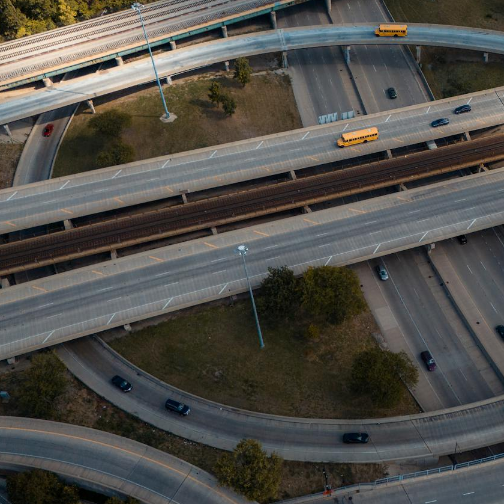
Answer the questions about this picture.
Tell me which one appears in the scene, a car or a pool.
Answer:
car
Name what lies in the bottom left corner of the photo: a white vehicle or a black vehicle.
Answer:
black vehicle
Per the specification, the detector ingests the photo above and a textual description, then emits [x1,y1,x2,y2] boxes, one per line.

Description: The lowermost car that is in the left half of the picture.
[164,396,192,416]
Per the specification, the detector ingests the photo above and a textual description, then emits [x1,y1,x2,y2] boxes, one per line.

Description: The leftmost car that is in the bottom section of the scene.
[108,371,132,392]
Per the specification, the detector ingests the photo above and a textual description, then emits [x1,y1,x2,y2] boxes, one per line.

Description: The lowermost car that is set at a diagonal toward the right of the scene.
[419,349,437,372]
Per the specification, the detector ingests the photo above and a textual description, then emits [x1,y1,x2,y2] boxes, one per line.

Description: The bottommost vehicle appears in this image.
[341,431,370,444]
